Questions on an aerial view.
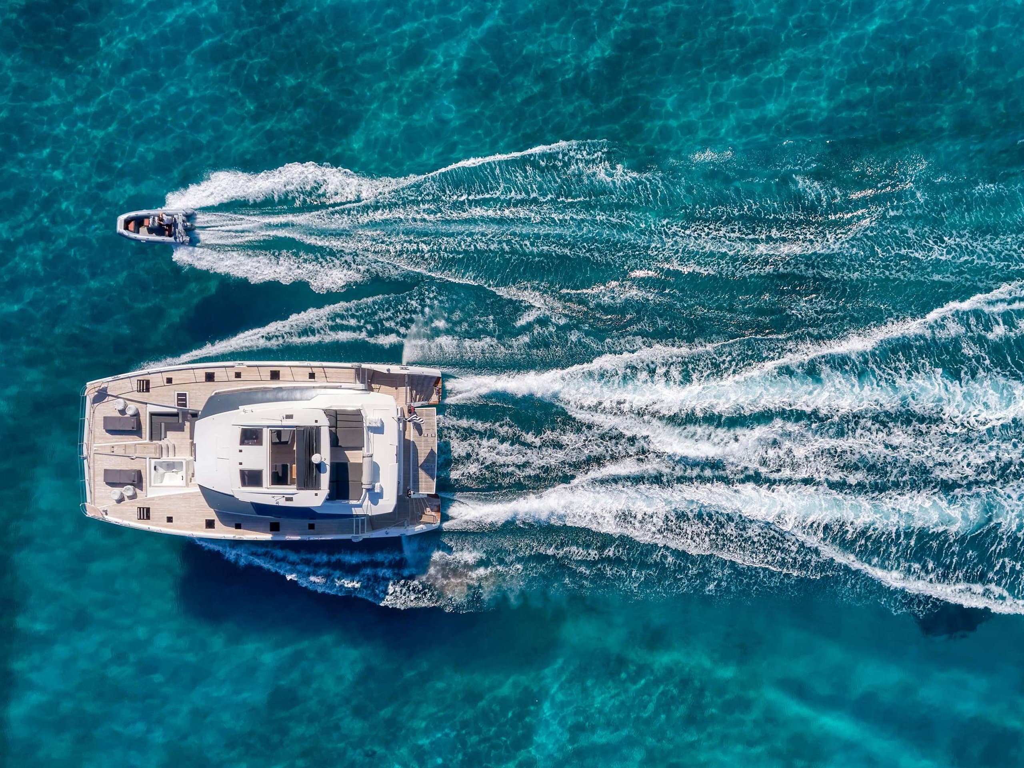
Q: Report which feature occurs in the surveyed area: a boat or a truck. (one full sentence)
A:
I can see a boat in this picture.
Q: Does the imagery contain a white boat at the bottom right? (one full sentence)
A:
No, there is no white boat at the bottom right.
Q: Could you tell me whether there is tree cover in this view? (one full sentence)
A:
No, no tree cover is visible.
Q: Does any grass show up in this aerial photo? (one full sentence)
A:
No, there's no grass in this view.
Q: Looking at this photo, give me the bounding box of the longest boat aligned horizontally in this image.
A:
[78,361,444,541]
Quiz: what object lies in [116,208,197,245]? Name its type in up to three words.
boat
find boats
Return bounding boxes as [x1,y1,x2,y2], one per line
[116,208,197,245]
[78,361,444,541]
